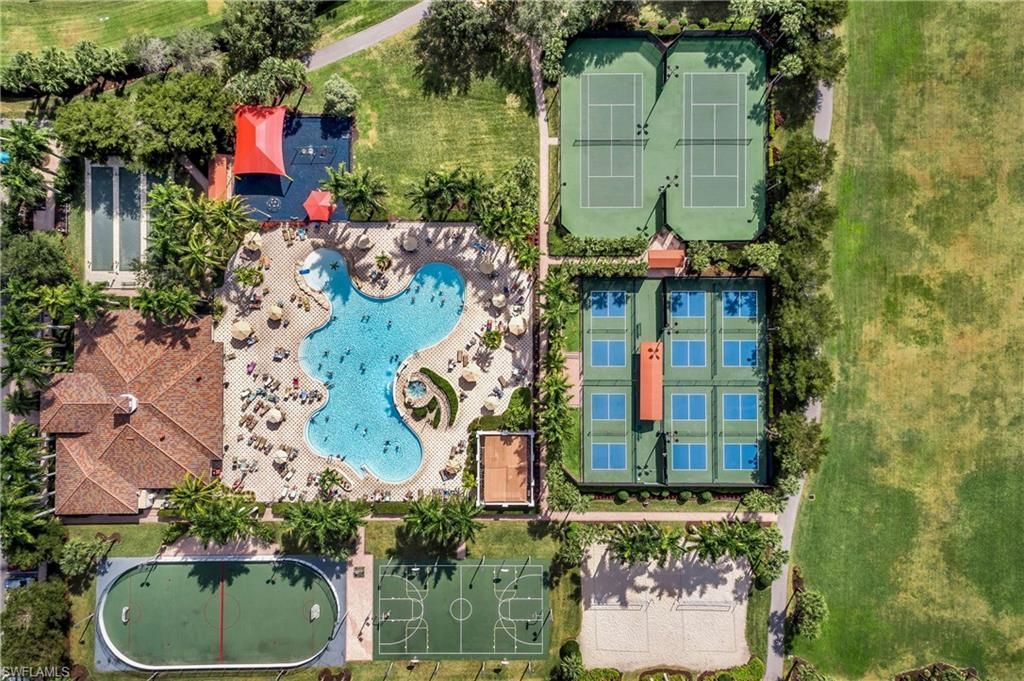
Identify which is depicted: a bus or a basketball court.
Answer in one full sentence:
This aerial view contains a basketball court.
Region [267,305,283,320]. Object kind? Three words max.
umbrella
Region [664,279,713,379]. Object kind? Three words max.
sports court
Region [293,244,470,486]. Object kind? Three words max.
swimming pool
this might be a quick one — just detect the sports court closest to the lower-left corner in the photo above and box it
[97,561,338,668]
